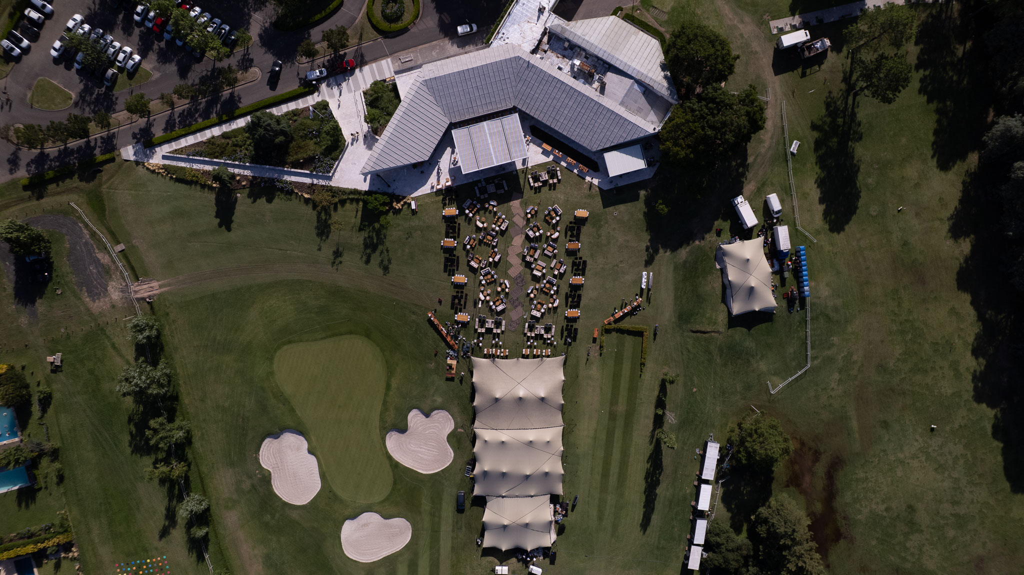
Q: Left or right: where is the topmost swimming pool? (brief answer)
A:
left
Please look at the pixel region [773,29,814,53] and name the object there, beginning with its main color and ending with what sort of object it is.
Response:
white truck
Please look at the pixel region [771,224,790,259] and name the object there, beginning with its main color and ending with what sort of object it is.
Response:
white vehicle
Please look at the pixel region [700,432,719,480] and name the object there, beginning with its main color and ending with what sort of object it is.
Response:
white trailer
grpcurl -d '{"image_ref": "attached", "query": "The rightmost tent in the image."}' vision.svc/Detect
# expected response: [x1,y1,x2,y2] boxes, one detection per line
[715,225,786,324]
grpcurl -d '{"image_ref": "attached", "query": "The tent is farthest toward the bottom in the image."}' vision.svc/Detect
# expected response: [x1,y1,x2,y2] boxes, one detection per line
[469,493,559,560]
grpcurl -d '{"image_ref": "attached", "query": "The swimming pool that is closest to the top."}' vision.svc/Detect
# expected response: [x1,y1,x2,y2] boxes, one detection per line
[0,405,25,447]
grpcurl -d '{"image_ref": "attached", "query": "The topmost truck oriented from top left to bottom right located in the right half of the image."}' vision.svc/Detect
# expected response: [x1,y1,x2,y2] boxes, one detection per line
[728,193,758,230]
